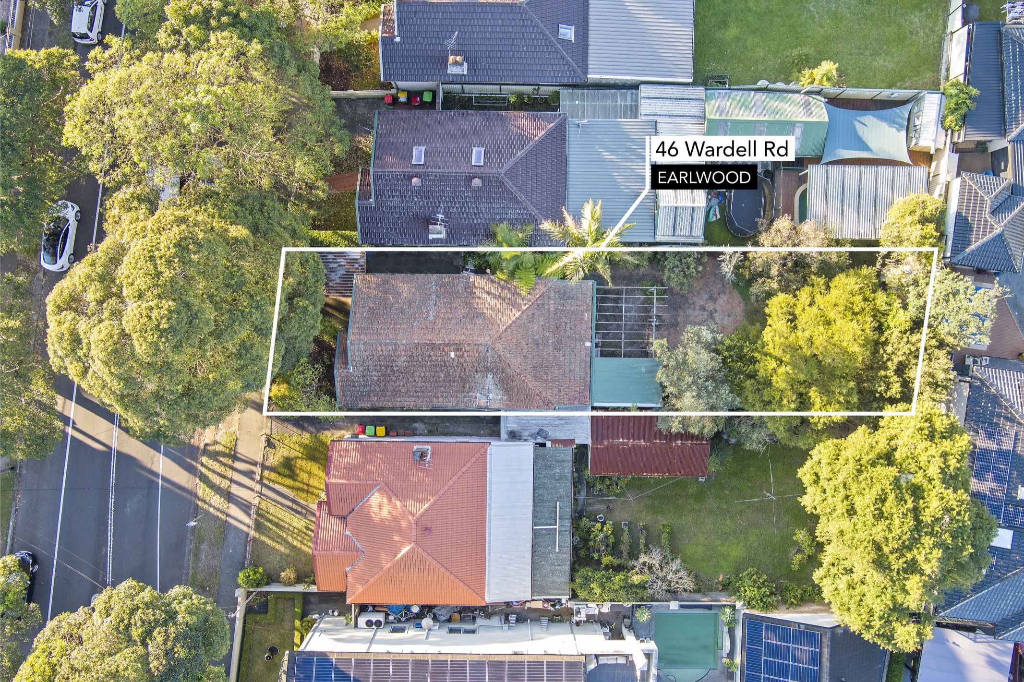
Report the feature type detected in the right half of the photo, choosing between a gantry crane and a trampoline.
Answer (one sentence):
Visible in the right half of the photo is a trampoline.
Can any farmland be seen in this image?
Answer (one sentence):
No, there is no farmland in the image.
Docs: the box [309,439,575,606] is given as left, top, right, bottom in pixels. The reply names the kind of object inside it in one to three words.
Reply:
house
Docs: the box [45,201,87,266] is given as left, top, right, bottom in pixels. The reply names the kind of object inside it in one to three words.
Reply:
car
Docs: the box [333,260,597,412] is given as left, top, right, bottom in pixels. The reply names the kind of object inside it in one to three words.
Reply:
house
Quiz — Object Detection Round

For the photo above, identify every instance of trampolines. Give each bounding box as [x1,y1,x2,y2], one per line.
[725,163,774,237]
